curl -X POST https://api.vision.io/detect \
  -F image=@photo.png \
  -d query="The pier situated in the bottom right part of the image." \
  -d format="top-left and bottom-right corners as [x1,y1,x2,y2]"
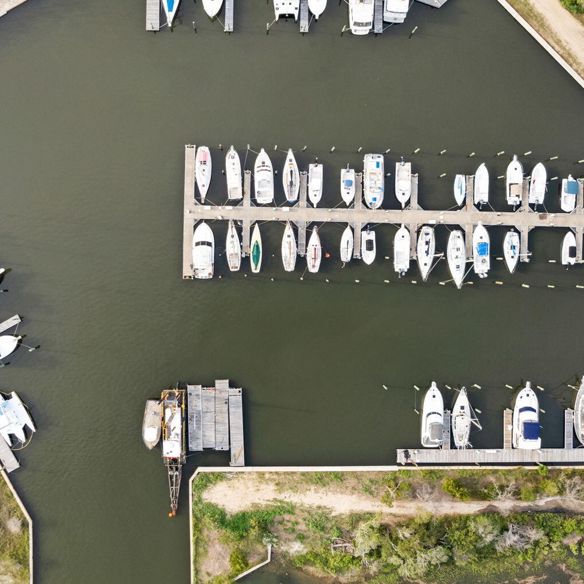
[397,410,584,462]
